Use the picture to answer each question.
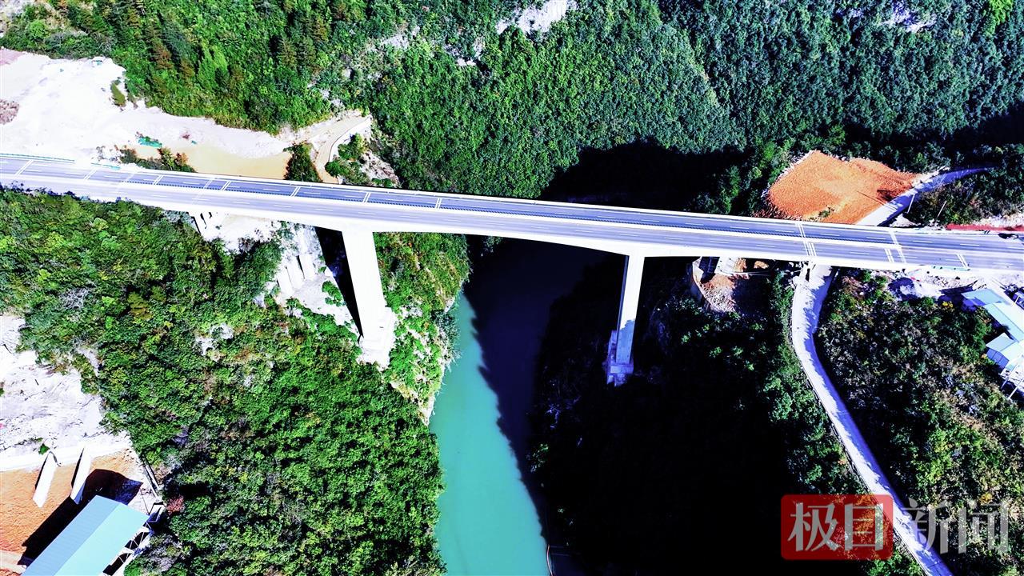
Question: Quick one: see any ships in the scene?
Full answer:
No, the scene contains no ship.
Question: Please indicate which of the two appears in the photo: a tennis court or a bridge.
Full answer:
It is a bridge that can be seen here.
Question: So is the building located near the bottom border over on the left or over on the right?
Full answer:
You can find the building located near the bottom border on the left side of the picture.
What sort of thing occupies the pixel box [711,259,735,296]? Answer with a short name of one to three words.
shed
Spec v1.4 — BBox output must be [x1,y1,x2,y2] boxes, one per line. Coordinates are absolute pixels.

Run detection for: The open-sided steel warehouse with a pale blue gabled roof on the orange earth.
[22,496,167,576]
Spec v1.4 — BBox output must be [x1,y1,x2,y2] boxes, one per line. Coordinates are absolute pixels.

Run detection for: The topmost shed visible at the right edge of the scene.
[954,289,1004,319]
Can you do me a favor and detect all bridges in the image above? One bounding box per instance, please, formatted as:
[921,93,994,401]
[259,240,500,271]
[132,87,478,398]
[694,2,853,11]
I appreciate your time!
[184,173,910,392]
